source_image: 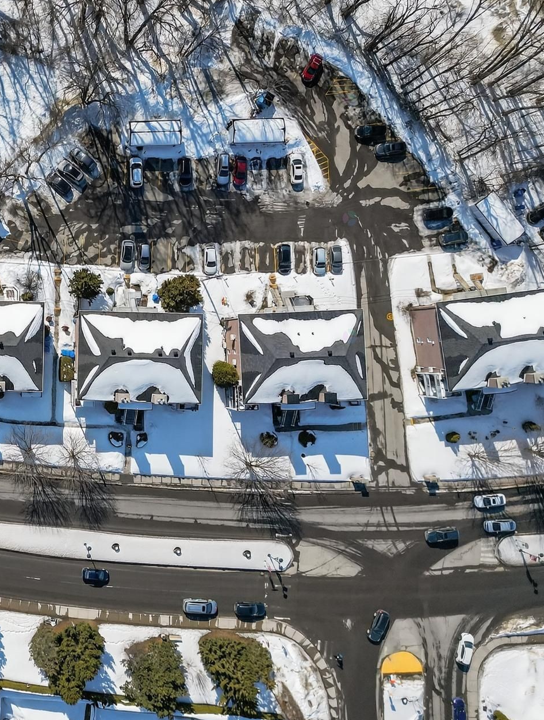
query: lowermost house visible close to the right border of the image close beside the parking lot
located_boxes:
[416,290,544,412]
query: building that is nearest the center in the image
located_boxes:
[226,308,368,426]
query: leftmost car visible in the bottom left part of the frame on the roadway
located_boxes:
[81,568,109,583]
